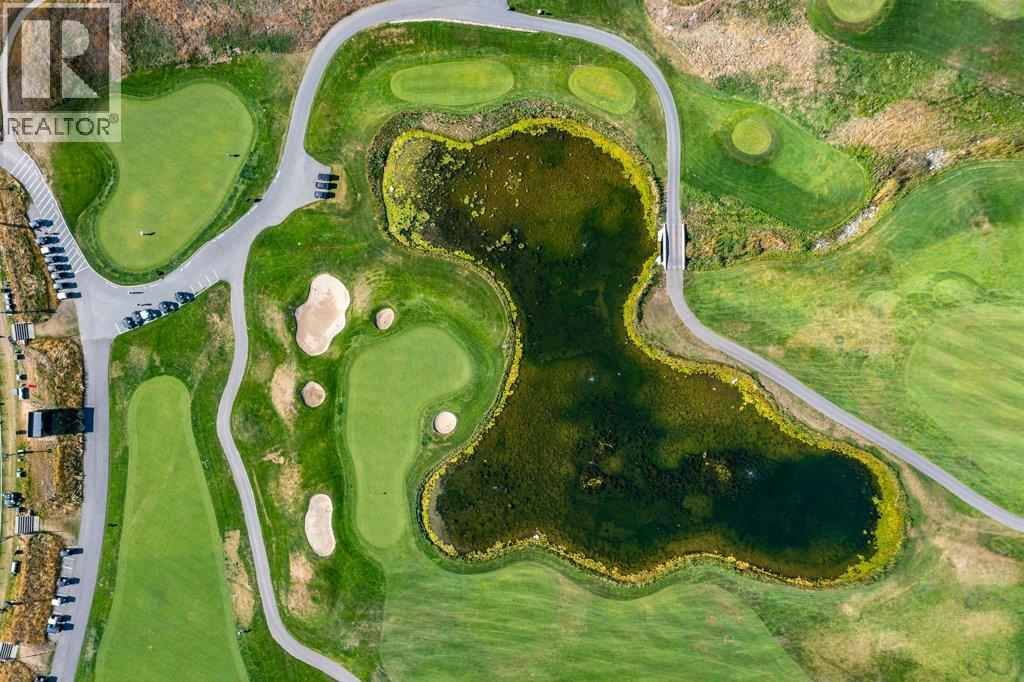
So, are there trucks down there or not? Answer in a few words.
No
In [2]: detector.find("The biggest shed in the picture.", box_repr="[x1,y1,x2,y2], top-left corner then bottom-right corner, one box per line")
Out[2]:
[27,409,62,438]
